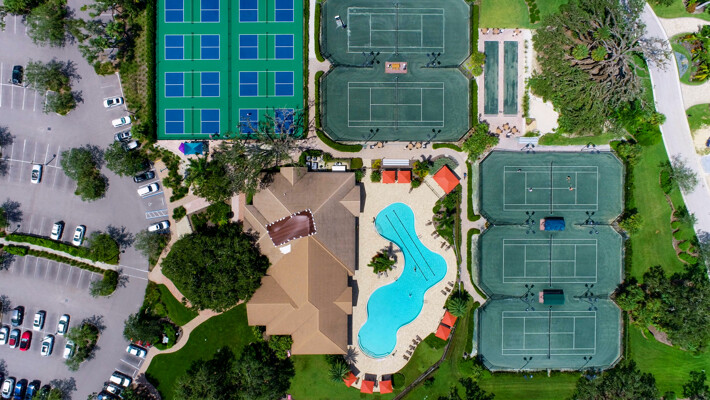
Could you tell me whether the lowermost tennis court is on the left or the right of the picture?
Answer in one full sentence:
It is on the right.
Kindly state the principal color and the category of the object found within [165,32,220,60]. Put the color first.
blue sports court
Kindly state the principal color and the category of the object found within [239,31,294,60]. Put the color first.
blue sports court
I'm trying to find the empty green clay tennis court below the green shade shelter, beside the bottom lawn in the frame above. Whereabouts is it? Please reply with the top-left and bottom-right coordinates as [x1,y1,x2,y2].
[479,297,621,370]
